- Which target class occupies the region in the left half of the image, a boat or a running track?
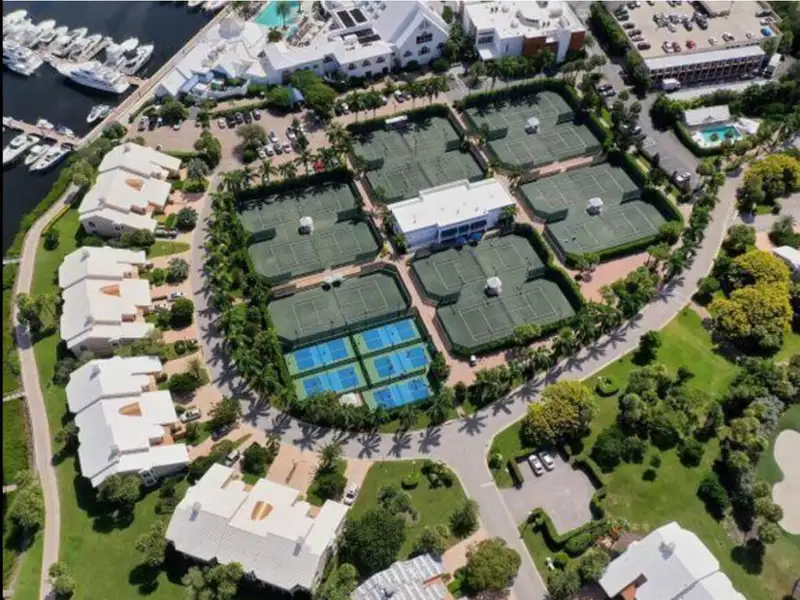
boat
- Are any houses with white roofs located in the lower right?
Yes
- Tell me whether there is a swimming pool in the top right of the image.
Yes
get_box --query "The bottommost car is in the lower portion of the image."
[343,484,359,505]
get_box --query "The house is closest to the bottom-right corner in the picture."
[598,521,748,600]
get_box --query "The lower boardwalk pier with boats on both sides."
[0,112,80,145]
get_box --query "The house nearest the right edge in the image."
[771,246,800,279]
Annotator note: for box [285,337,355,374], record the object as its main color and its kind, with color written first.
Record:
blue sports court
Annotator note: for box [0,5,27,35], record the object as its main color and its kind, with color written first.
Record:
white boat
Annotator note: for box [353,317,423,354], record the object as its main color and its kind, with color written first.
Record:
blue sports court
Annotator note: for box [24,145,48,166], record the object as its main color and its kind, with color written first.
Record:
white boat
